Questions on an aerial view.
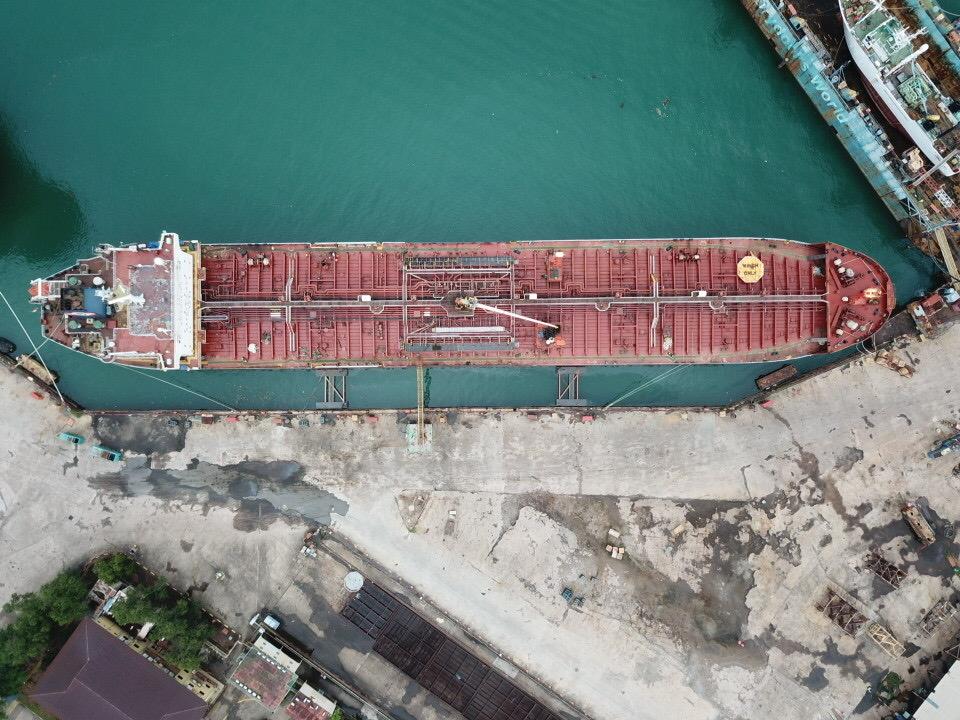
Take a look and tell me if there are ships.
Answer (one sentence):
Yes, a ship is visible in the scene.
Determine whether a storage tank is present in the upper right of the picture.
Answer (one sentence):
No, looking in the upper right of the picture, there is no storage tank.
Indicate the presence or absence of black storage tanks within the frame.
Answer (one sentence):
No, no black storage tank is visible in the view.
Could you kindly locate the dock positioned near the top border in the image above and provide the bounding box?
[737,0,960,272]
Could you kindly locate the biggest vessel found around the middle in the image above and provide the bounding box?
[31,232,899,370]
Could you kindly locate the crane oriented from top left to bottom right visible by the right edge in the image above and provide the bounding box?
[901,149,960,223]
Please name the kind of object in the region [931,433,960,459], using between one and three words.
truck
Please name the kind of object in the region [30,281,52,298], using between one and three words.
boat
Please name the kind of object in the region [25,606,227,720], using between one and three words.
building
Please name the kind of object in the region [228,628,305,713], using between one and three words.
building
